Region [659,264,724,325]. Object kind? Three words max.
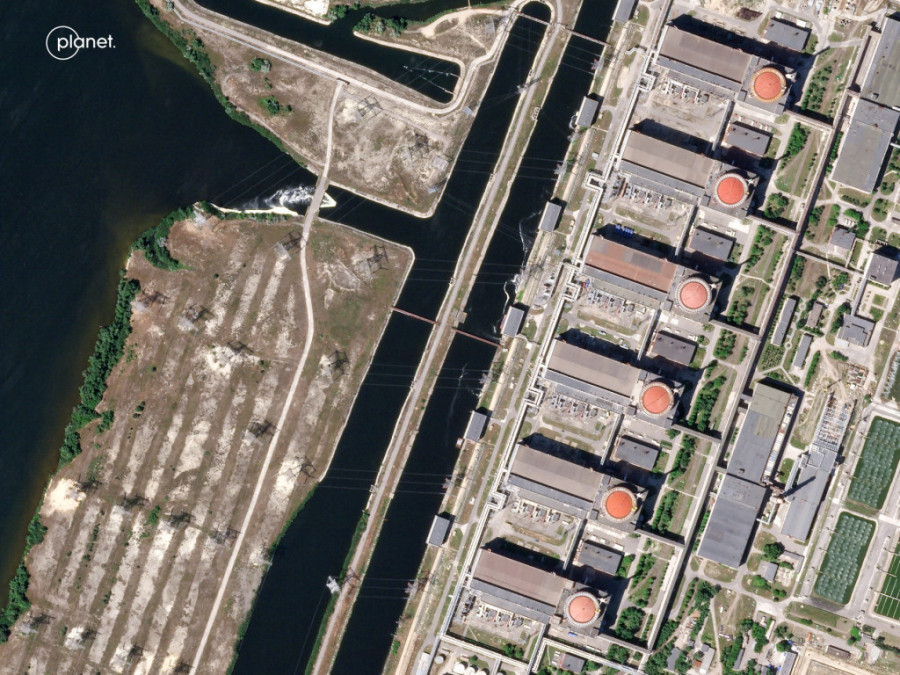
building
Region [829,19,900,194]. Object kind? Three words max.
building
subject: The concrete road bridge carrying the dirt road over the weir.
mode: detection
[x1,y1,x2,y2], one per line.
[301,173,328,234]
